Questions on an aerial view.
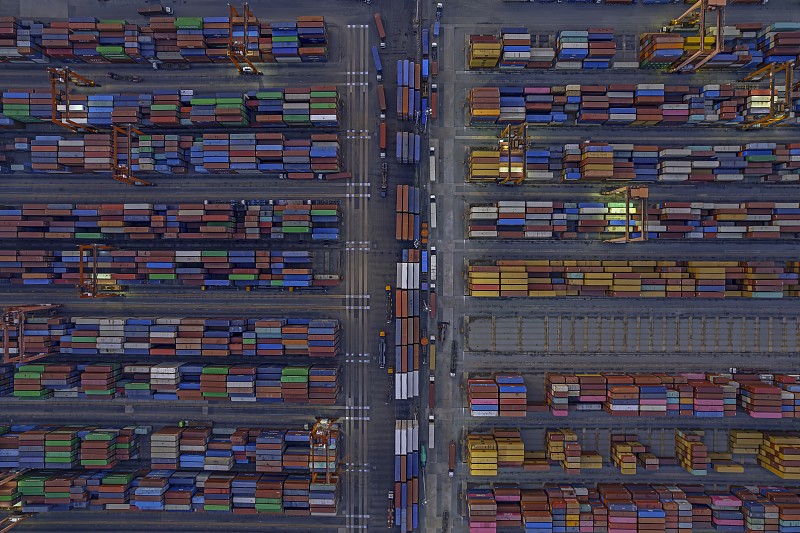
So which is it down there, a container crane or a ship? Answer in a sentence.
The one in the frame is a container crane.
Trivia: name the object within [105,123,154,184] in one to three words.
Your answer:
container crane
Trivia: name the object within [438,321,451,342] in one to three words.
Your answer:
vehicle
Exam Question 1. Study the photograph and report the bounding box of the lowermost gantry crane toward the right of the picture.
[605,187,650,246]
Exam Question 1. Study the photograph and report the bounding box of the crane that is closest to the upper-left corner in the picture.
[43,63,98,131]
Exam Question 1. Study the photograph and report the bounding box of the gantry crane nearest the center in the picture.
[496,123,530,185]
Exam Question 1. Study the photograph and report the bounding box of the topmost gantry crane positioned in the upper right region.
[673,0,726,73]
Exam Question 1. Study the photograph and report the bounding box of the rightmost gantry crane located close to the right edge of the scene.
[738,65,796,132]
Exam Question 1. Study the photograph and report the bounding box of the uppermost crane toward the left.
[225,2,262,73]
